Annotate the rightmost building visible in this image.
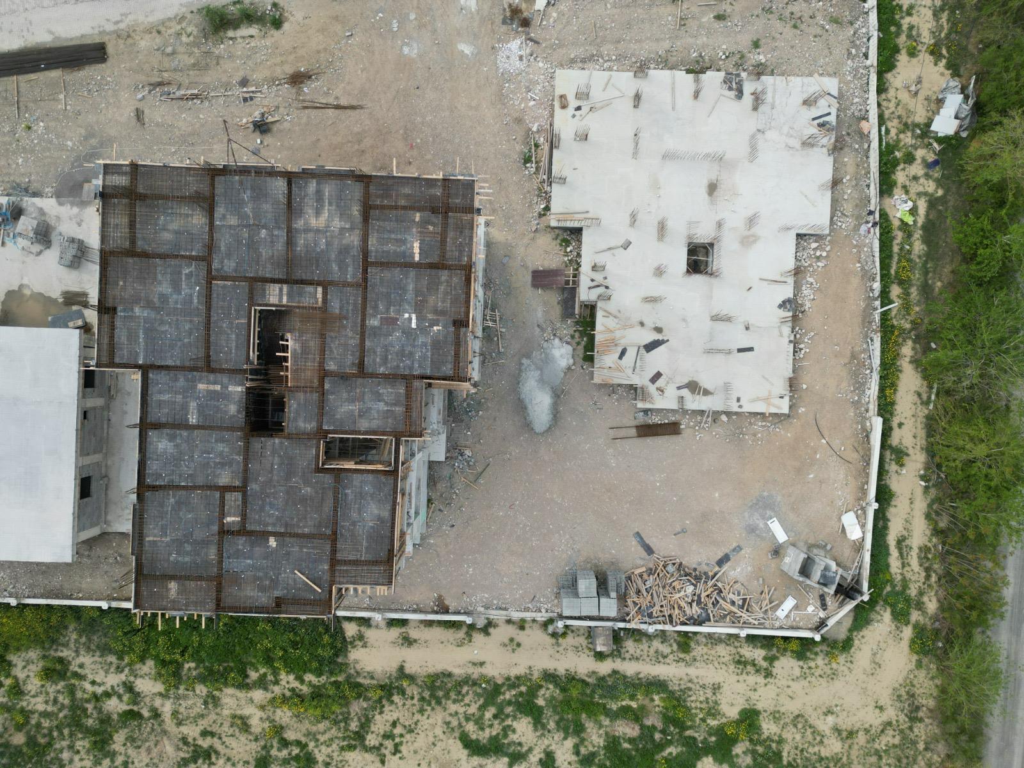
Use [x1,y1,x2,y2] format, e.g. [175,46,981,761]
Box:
[75,145,494,630]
